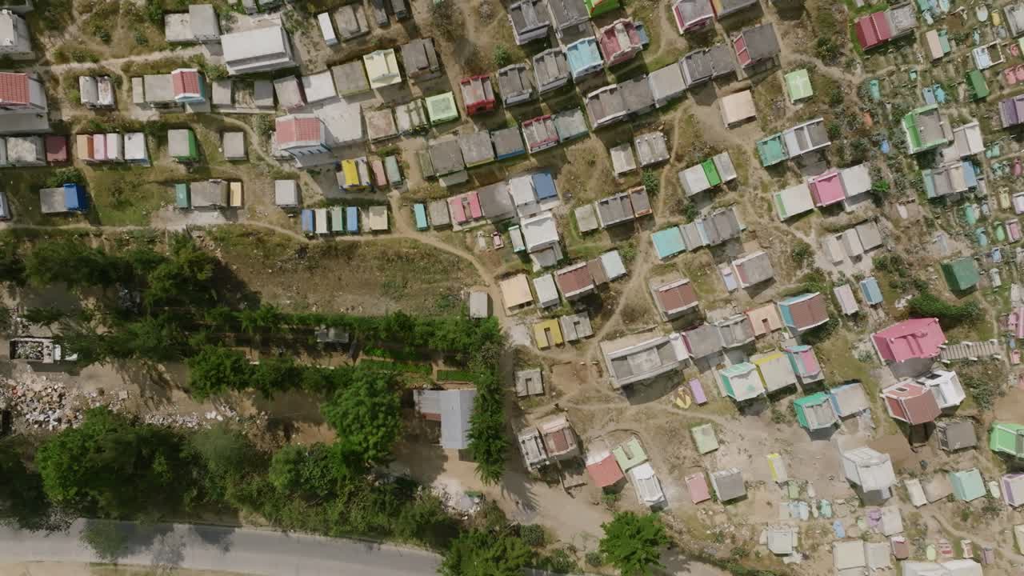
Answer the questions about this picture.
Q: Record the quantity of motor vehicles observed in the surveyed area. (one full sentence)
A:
I count 1 motor vehicle.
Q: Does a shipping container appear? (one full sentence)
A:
No, I find no shipping container anywhere in the image.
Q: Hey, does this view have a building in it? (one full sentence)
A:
Yes, there is a building in the image.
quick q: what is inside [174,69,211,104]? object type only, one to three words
building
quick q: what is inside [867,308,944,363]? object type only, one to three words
building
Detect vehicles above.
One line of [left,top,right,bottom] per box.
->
[9,339,88,364]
